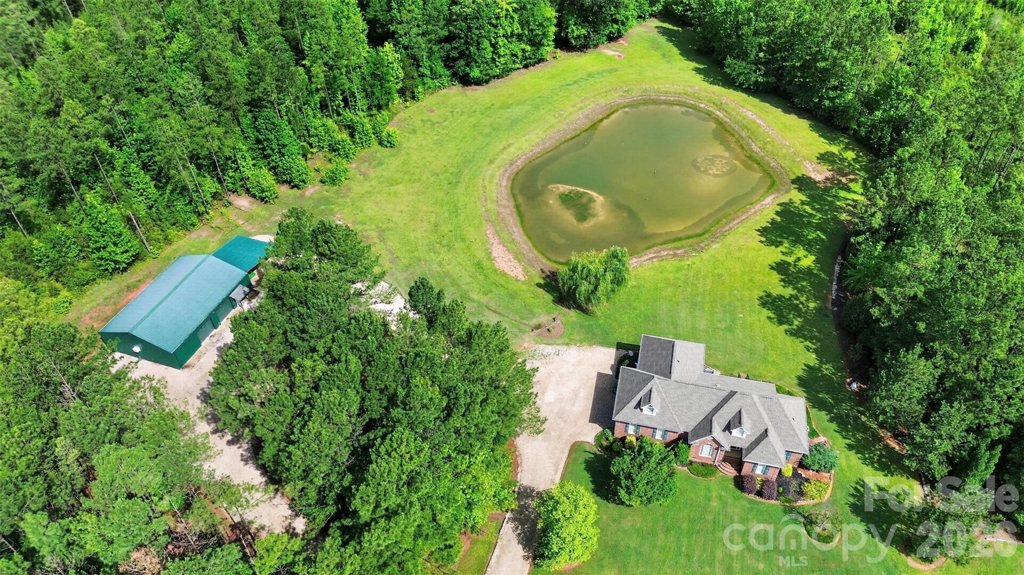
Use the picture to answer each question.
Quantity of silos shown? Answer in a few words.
0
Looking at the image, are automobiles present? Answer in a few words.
No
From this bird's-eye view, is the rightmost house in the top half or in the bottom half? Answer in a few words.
bottom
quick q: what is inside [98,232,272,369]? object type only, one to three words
barn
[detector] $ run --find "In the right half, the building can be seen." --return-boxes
[613,335,809,482]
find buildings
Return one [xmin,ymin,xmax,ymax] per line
[98,232,272,369]
[613,335,809,482]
